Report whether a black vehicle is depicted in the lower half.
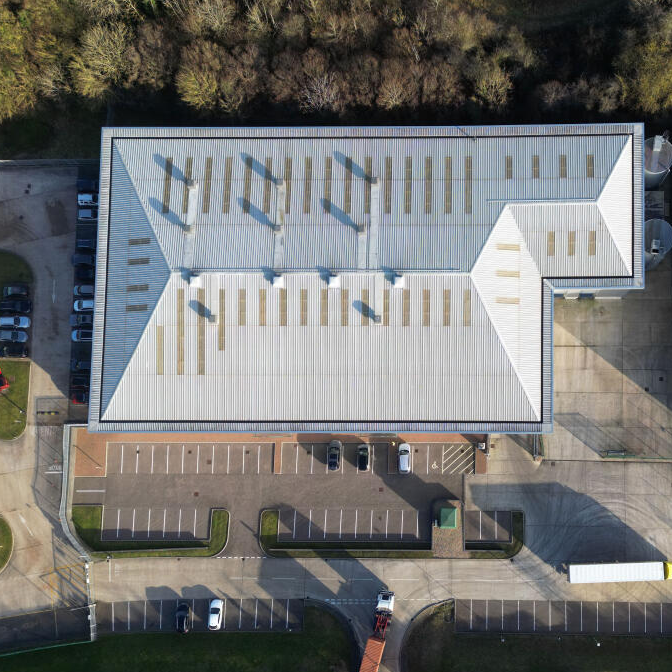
Yes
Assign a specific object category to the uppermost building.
warehouse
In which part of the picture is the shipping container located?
bottom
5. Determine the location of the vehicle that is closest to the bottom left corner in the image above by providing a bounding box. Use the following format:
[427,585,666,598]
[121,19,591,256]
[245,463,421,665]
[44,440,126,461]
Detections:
[176,601,192,635]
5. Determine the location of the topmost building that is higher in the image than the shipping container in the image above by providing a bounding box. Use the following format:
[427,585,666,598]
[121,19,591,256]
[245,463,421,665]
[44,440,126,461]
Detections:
[89,123,649,433]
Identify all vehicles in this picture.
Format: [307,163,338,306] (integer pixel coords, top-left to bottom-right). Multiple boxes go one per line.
[75,208,99,222]
[356,445,370,472]
[75,284,95,298]
[327,441,341,472]
[0,330,29,344]
[176,601,192,635]
[73,359,92,372]
[0,376,11,389]
[70,374,91,389]
[563,555,672,584]
[75,268,96,281]
[74,237,97,251]
[72,253,97,267]
[0,316,31,329]
[0,343,31,357]
[3,285,28,298]
[71,314,94,328]
[209,598,224,632]
[71,329,93,343]
[397,444,412,475]
[74,192,99,207]
[75,299,95,313]
[73,178,100,193]
[372,587,396,638]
